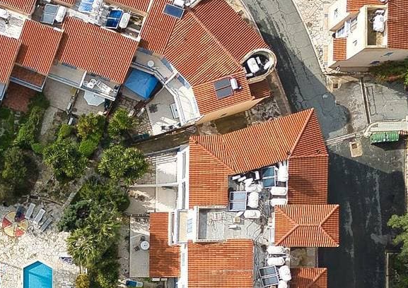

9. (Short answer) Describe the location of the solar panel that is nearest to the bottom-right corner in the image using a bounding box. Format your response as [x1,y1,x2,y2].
[255,266,278,287]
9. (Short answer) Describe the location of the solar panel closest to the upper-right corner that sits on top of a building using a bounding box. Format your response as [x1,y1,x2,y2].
[211,76,232,100]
